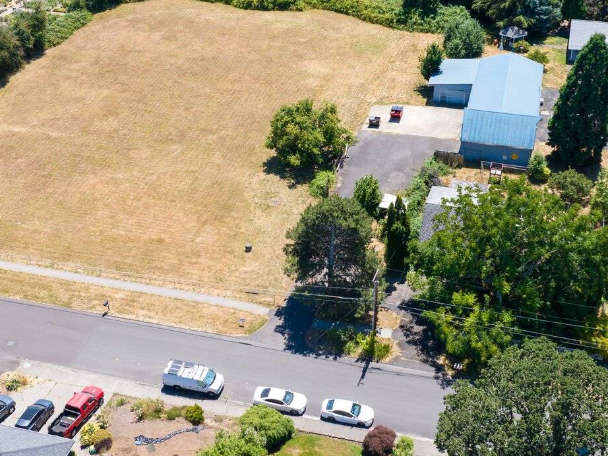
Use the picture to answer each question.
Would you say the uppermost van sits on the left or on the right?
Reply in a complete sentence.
The uppermost van is on the left side of the image.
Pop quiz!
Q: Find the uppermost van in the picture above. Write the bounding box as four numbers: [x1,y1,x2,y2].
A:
[161,358,224,397]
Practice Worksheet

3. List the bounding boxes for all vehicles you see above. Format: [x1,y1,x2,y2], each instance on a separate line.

[13,394,57,433]
[161,358,224,397]
[319,399,375,428]
[0,392,15,417]
[252,387,307,415]
[50,388,101,440]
